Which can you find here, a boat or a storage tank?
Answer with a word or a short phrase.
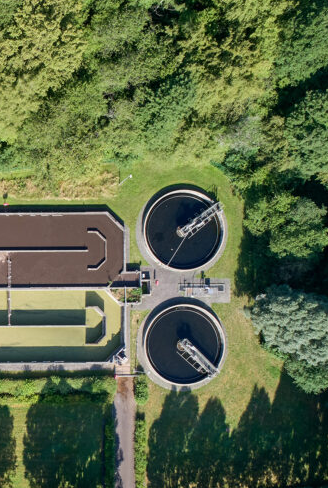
storage tank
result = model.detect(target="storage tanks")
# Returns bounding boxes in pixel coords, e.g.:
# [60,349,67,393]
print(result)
[137,186,228,277]
[138,300,228,390]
